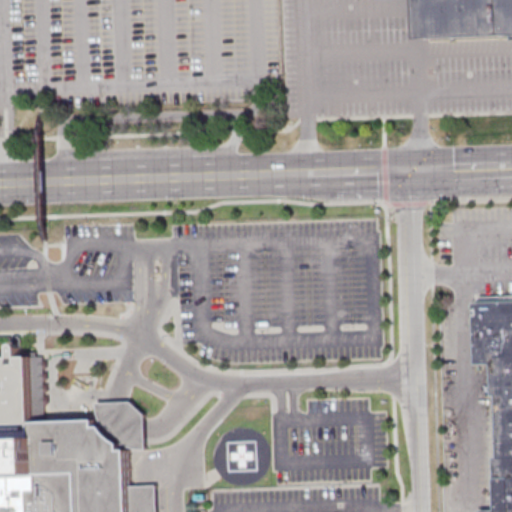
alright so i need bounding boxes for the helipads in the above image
[214,428,270,484]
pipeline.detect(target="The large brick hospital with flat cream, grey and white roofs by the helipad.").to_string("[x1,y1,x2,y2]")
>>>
[0,334,161,512]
